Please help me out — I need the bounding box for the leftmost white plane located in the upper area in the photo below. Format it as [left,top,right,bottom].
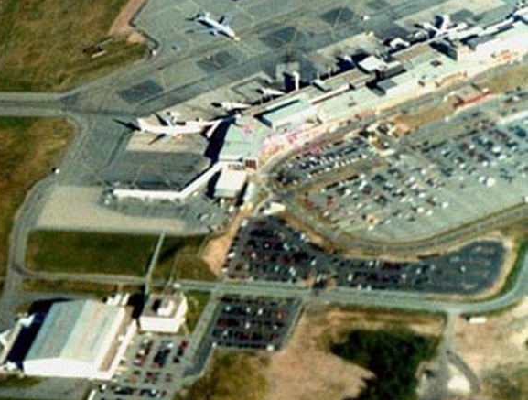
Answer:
[142,114,202,141]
